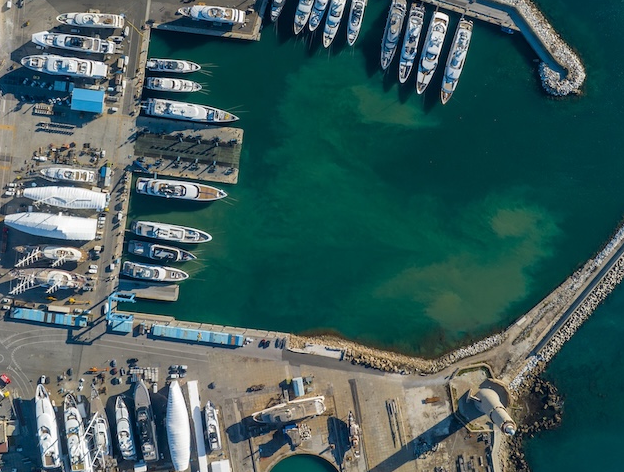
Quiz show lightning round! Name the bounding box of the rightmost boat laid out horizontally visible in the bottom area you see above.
[252,394,329,421]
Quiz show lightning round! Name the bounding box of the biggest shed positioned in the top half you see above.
[70,87,109,113]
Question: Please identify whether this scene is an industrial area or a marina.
marina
